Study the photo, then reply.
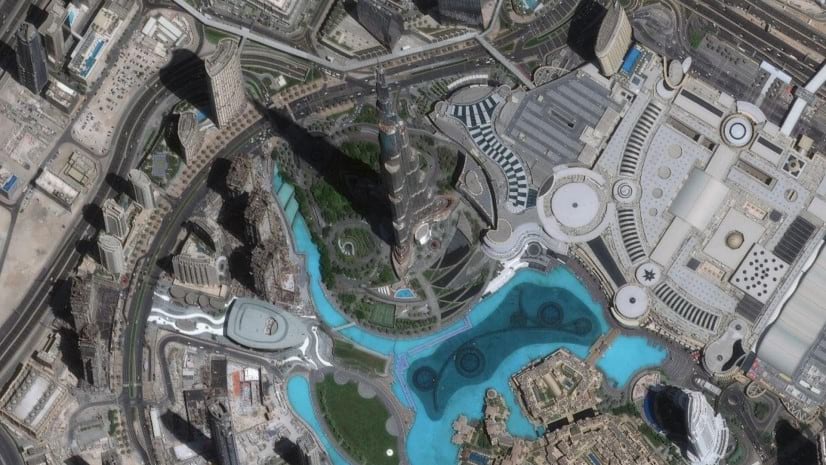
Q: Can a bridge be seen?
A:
Yes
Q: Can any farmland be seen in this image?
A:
No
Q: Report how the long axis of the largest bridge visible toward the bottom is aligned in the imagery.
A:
diagonally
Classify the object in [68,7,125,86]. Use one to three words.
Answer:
building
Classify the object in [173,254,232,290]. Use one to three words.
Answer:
building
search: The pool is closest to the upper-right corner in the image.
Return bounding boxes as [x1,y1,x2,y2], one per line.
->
[621,46,640,72]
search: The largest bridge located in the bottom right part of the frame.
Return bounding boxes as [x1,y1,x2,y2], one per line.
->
[582,322,622,367]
